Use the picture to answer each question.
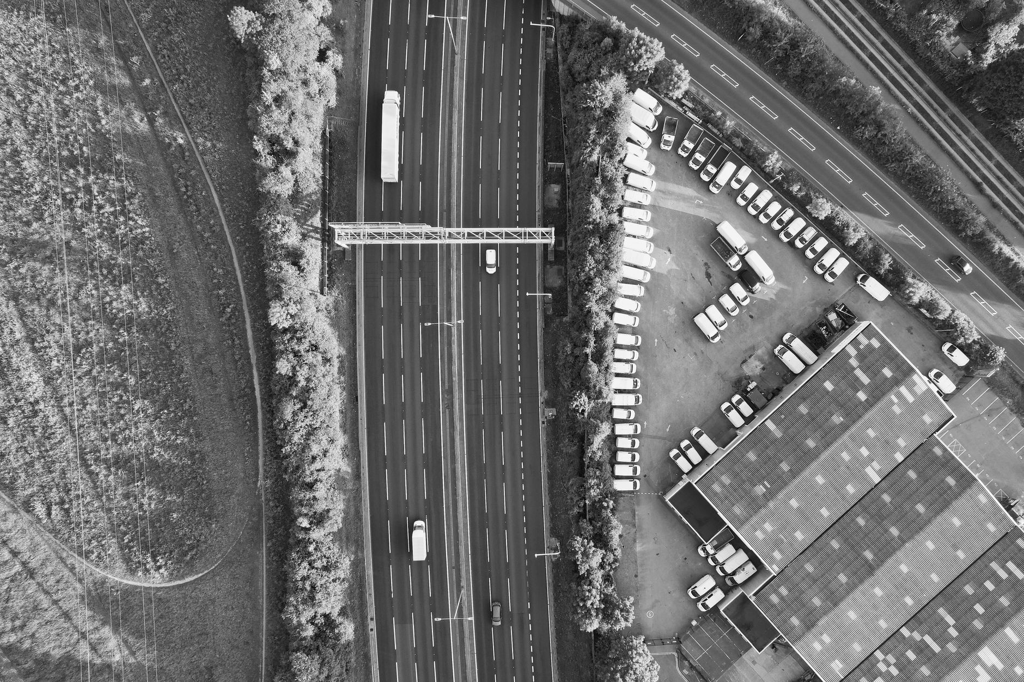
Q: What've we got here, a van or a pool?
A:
van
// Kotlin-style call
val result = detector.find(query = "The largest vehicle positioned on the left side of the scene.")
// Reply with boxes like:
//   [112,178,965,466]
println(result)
[383,93,401,181]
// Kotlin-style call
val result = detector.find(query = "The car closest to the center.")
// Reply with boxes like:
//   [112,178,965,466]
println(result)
[484,249,497,274]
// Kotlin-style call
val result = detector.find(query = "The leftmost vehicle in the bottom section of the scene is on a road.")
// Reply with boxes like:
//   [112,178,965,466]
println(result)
[412,520,426,562]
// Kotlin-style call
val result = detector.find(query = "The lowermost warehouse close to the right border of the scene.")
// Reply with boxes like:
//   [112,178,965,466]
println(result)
[682,321,1024,682]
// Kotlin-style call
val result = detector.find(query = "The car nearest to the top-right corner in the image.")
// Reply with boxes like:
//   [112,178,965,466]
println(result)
[949,254,972,275]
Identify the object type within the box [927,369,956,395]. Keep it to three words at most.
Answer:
car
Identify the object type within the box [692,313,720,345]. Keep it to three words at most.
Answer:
van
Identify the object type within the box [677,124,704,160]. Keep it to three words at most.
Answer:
truck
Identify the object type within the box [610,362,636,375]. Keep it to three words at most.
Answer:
vehicle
